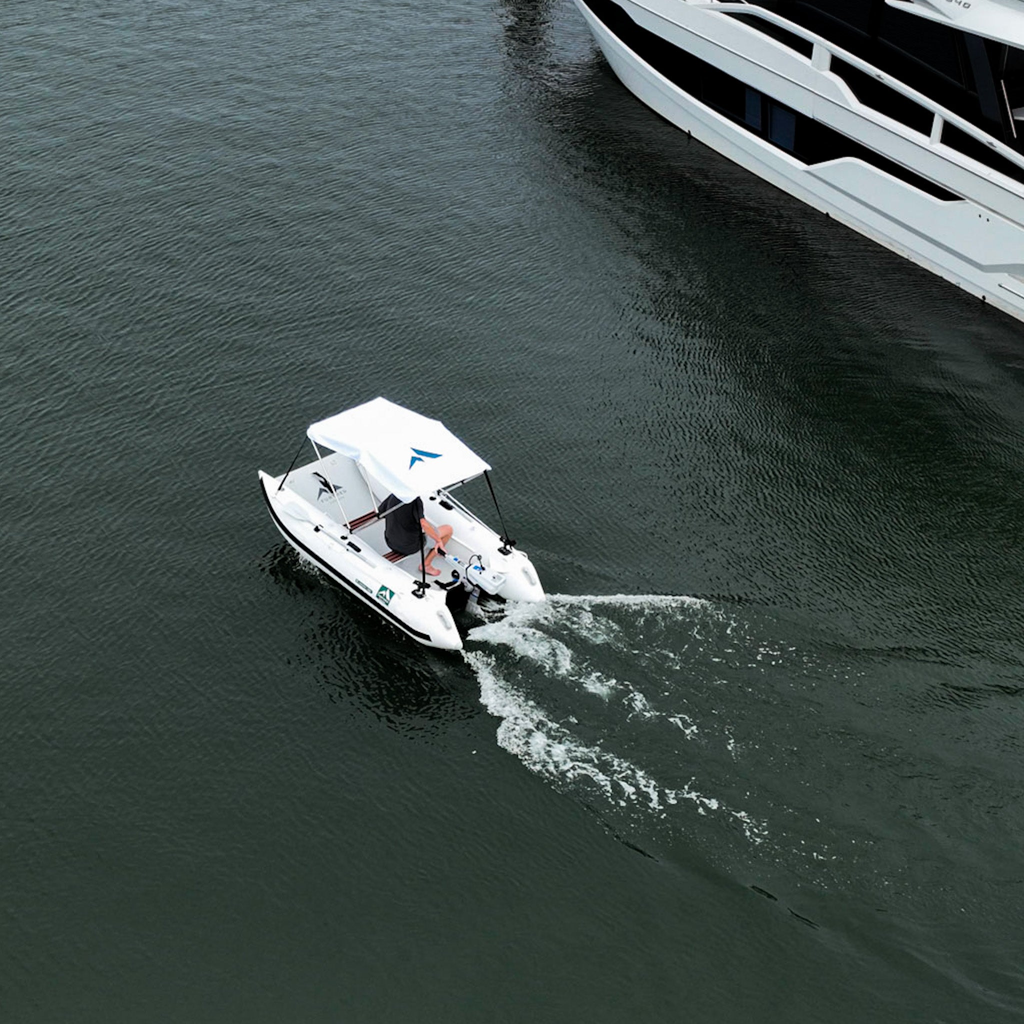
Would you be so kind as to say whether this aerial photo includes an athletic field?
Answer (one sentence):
No, no athletic field can be seen from above.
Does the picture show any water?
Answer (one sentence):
Yes, there's water in this view.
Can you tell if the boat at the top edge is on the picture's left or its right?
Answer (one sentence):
It is on the right.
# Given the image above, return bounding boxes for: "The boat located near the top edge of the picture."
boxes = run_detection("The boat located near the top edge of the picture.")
[574,0,1024,323]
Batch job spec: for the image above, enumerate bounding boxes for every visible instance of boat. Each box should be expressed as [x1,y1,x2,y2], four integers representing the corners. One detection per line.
[574,0,1024,323]
[257,399,547,651]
